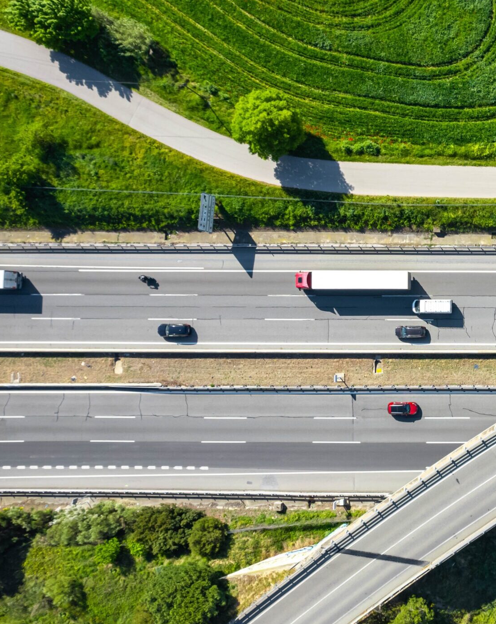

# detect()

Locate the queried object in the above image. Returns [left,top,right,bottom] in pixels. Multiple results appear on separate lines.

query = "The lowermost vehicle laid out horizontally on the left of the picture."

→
[159,323,191,337]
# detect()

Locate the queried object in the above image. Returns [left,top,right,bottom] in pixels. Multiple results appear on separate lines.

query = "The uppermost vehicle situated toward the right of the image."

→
[295,269,413,291]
